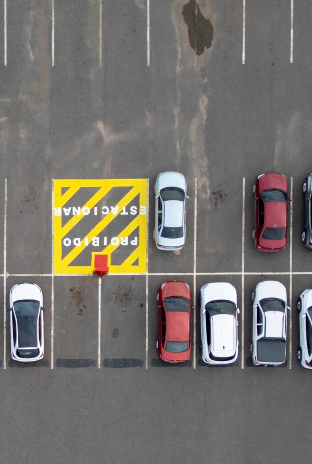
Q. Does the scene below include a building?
No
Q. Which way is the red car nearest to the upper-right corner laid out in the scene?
from top to bottom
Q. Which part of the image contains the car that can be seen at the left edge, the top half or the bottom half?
bottom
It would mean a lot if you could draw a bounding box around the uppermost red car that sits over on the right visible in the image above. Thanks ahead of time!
[251,172,293,252]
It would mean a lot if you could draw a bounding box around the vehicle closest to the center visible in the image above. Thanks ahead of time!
[151,171,192,251]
